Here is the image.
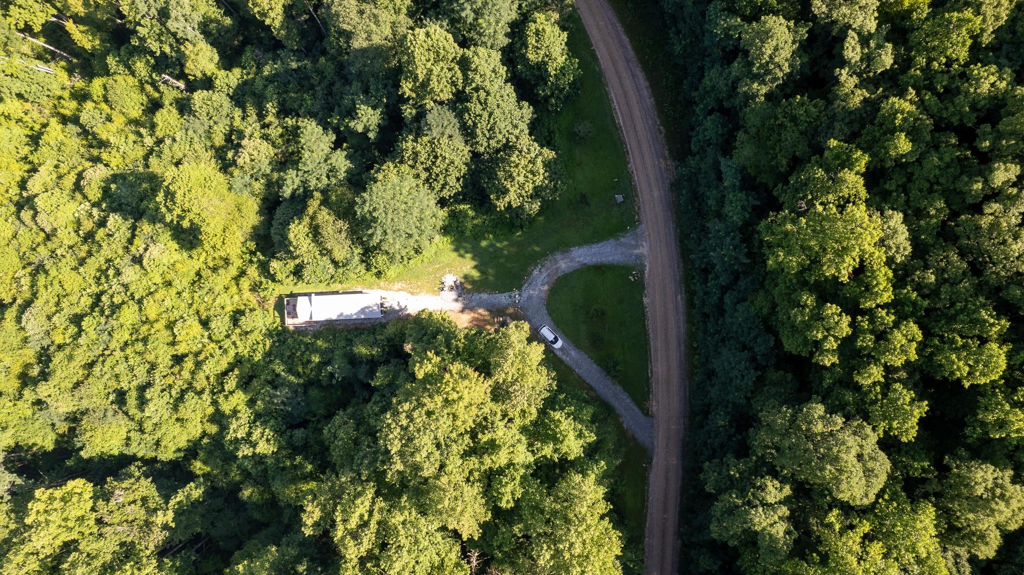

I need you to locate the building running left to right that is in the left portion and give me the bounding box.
[296,293,383,321]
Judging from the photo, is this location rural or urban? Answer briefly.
rural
